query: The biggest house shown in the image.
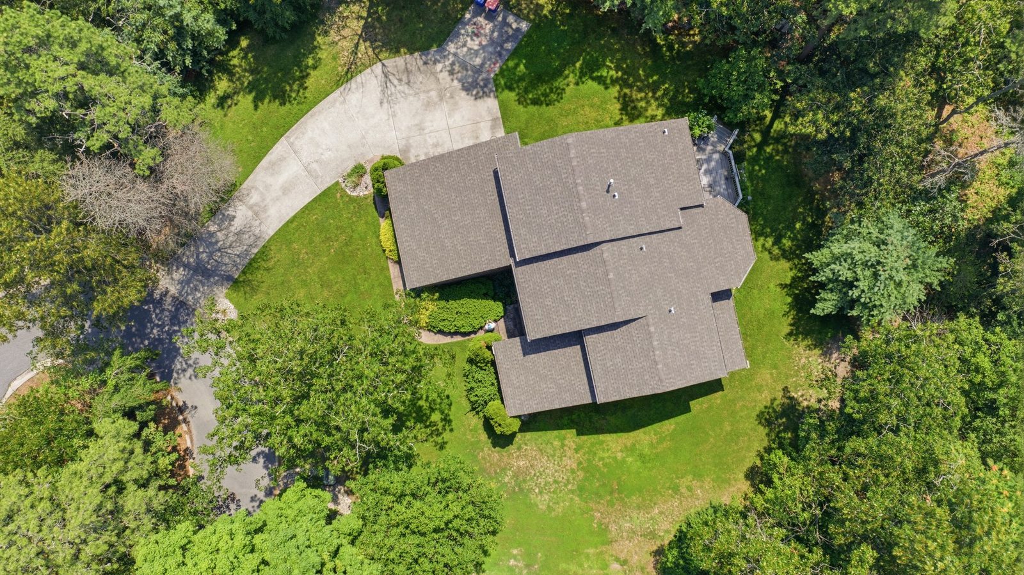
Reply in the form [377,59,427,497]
[383,117,758,416]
